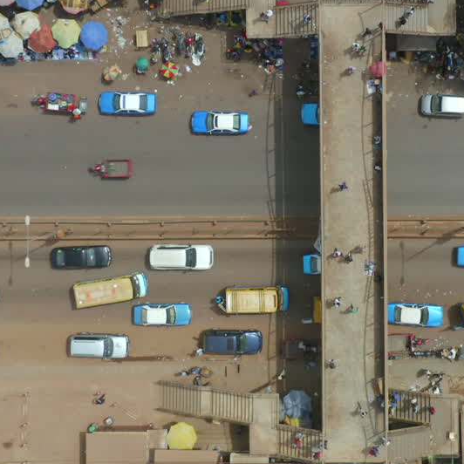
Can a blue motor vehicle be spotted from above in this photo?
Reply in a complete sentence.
Yes, the image includes a blue motor vehicle.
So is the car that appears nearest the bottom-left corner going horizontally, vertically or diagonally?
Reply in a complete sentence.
The car that appears nearest the bottom-left corner is laid out horizontally.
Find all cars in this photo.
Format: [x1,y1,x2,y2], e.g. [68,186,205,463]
[148,243,213,273]
[50,243,112,271]
[386,302,445,330]
[454,245,464,268]
[65,331,130,362]
[191,109,251,137]
[302,253,320,276]
[301,103,320,126]
[418,91,464,119]
[97,88,158,118]
[131,301,192,329]
[202,328,262,358]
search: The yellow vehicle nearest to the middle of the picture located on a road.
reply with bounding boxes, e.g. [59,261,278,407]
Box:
[220,285,289,316]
